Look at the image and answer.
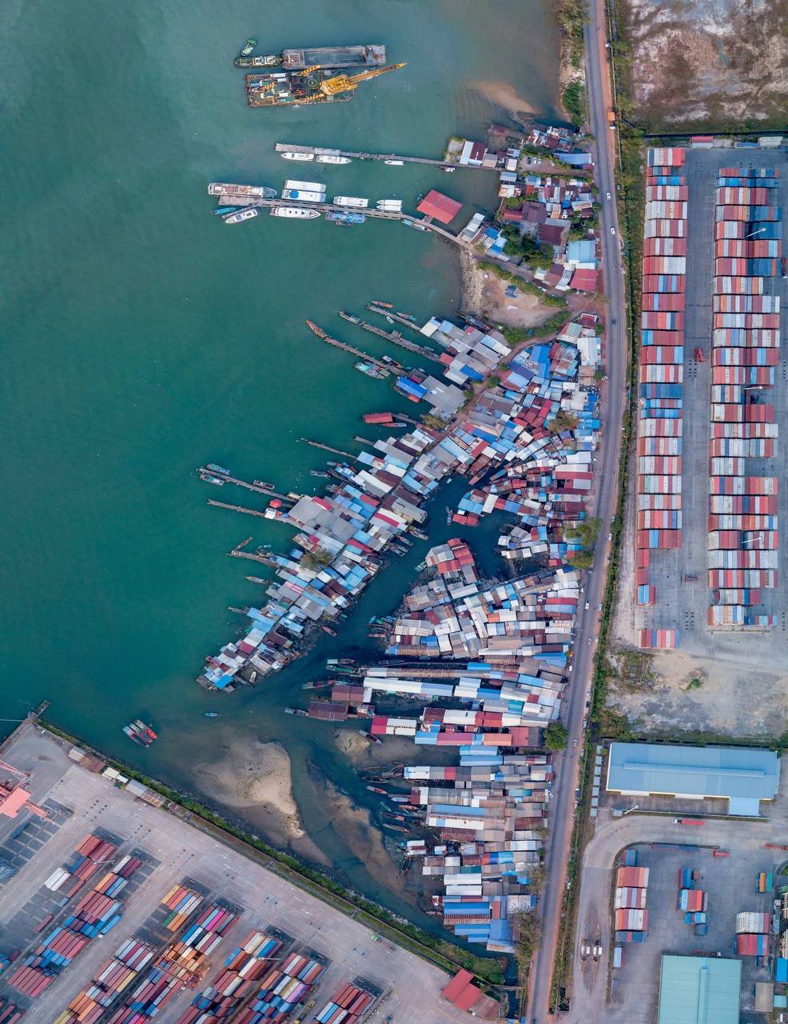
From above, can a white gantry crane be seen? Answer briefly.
No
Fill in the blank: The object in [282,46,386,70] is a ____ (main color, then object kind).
gray ship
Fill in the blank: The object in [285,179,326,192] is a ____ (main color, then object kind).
white boat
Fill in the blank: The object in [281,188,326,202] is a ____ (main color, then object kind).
white boat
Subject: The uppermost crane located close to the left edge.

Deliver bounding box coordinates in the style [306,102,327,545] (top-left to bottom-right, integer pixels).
[0,739,54,825]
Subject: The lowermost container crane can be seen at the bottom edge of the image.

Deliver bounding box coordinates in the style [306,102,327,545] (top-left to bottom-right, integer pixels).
[154,941,206,987]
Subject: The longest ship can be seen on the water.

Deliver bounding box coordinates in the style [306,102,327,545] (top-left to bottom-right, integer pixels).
[246,61,408,106]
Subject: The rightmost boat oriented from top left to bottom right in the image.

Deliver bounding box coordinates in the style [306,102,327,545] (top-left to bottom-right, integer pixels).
[466,316,490,332]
